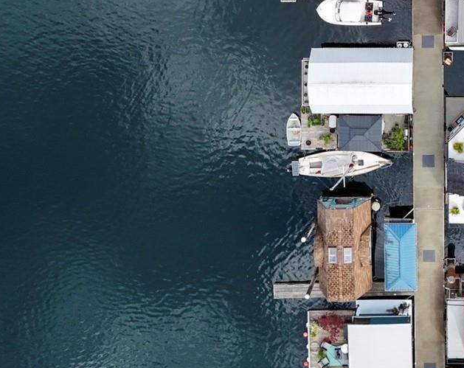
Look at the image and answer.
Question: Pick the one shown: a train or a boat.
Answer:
boat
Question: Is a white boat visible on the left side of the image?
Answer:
No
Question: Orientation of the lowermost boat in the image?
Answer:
horizontally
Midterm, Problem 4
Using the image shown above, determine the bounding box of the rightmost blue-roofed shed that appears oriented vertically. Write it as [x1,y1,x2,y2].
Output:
[383,210,418,293]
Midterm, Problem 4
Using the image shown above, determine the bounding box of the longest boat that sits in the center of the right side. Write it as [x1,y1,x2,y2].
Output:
[287,151,397,196]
